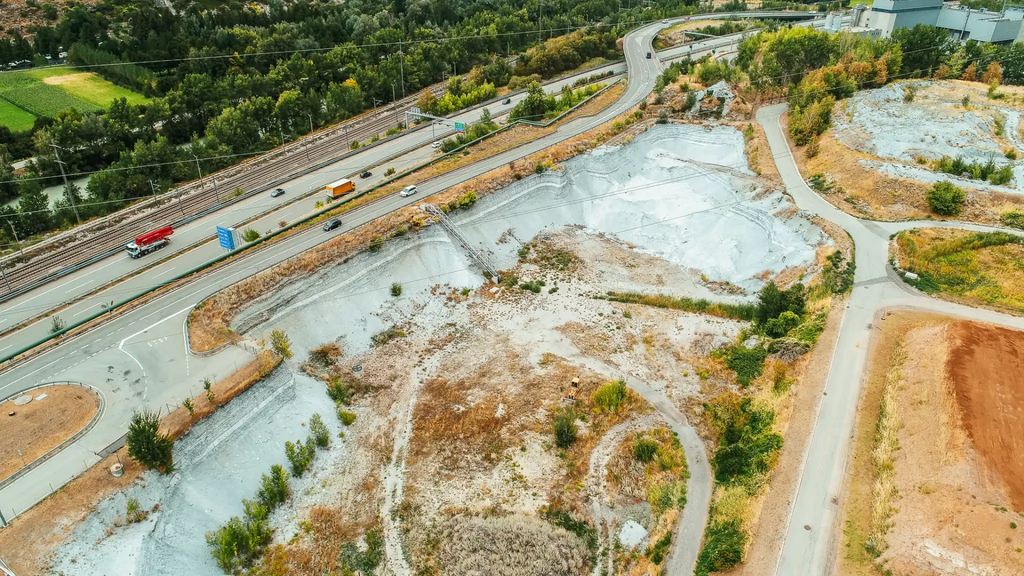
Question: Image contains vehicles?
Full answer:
Yes, a vehicle appears in the view.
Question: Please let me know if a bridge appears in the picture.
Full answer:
Yes, the frame does contain a bridge.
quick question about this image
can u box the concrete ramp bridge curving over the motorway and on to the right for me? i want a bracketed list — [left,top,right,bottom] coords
[614,11,838,105]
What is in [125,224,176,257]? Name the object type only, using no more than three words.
truck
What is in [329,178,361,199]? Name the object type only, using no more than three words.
truck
